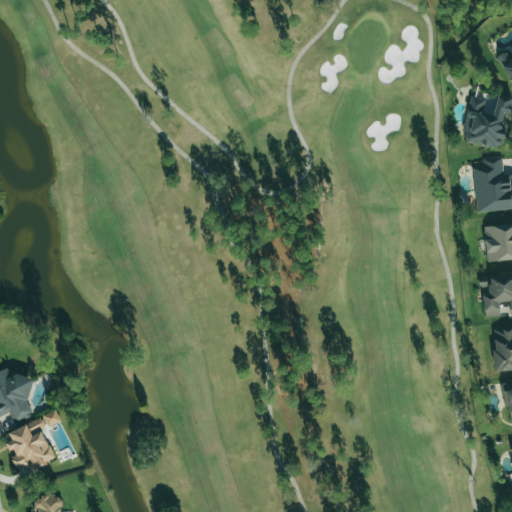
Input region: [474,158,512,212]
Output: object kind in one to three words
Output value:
house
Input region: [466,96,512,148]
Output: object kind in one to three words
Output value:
house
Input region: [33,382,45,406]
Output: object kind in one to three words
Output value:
swimming pool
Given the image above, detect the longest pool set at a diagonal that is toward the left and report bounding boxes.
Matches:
[50,423,75,454]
